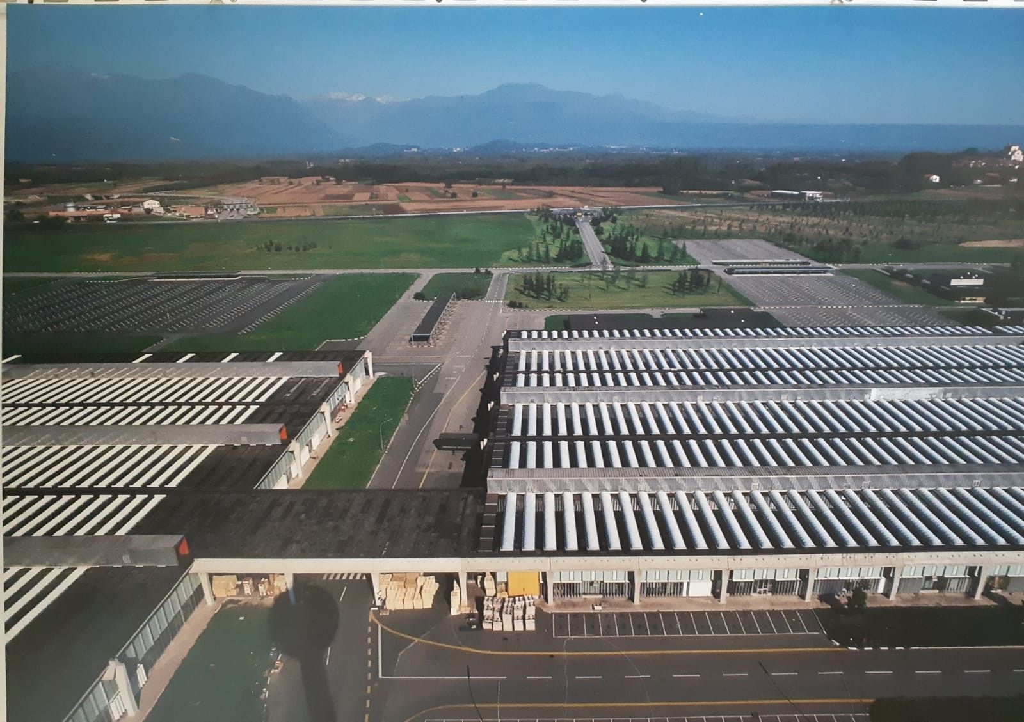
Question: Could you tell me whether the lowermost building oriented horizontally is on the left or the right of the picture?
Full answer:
The lowermost building oriented horizontally appears in the right half of the scene.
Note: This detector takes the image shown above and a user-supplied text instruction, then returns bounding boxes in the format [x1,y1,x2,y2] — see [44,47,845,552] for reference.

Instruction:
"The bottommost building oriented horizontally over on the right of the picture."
[463,324,1024,602]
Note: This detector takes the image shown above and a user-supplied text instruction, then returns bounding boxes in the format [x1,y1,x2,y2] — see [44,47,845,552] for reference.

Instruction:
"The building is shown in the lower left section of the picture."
[0,350,371,722]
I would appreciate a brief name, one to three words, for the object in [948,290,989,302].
building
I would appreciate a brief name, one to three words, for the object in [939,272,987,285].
building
